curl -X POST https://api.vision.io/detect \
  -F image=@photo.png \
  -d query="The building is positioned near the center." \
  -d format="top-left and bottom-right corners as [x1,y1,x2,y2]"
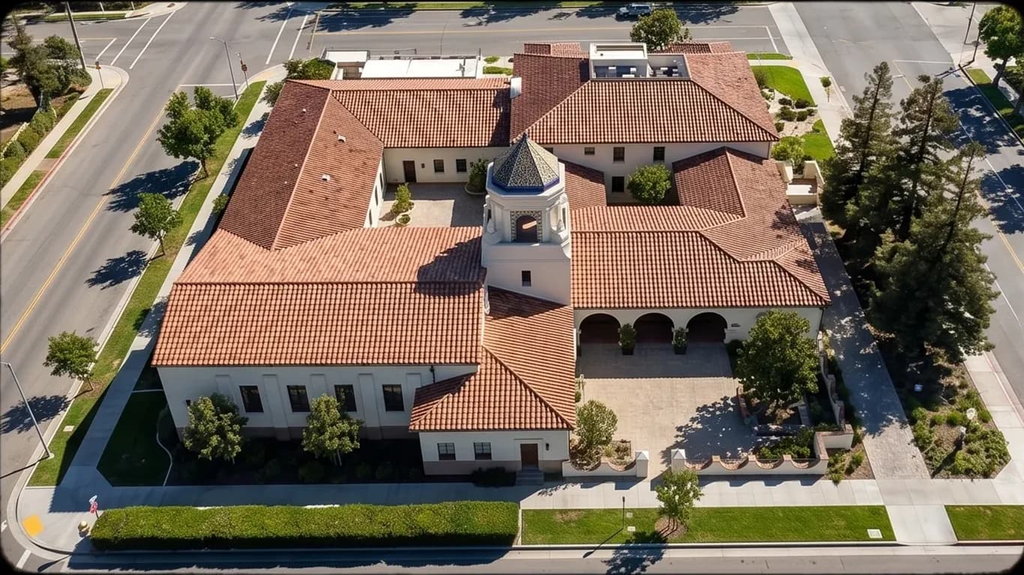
[144,38,833,483]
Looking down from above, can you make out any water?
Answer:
No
